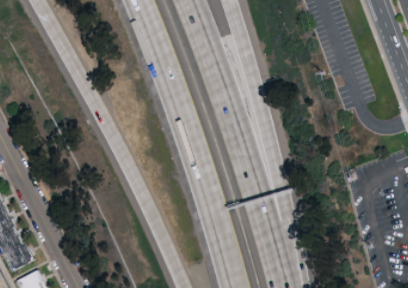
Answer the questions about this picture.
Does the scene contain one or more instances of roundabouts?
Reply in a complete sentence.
No, this view has no roundabout in it.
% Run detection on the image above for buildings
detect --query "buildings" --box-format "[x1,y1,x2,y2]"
[0,192,35,268]
[16,269,50,288]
